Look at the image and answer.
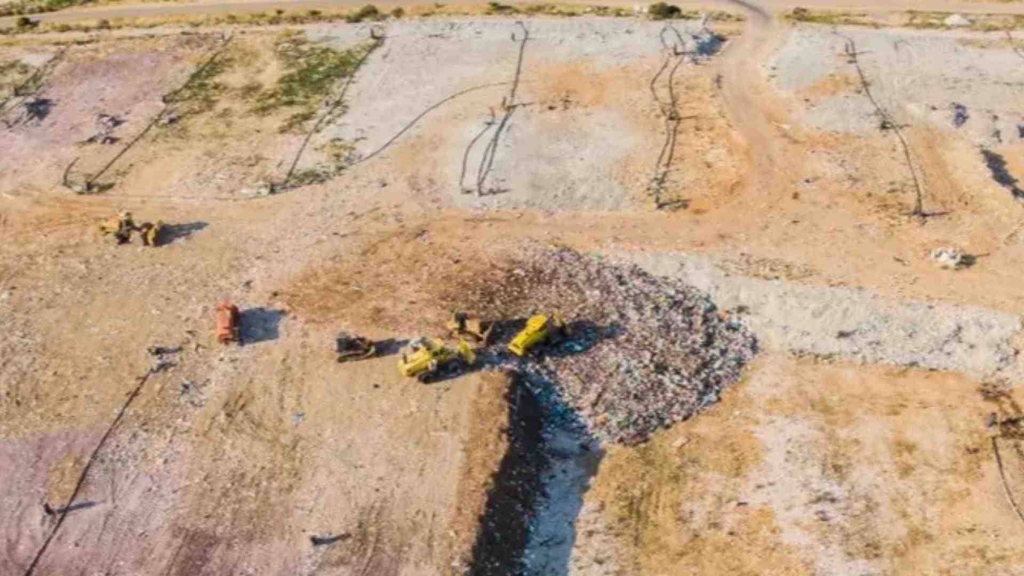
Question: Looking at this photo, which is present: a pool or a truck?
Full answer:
There is a truck in the scene.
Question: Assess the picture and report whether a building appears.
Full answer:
No, no building is visible in the view.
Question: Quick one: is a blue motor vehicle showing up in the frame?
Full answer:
No, the photo shows no blue motor vehicle.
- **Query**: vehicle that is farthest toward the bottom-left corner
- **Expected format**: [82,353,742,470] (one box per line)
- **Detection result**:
[209,303,248,345]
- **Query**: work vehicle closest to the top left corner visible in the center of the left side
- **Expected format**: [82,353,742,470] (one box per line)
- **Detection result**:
[96,217,162,246]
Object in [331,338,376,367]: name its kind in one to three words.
work vehicle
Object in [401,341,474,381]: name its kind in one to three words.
work vehicle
